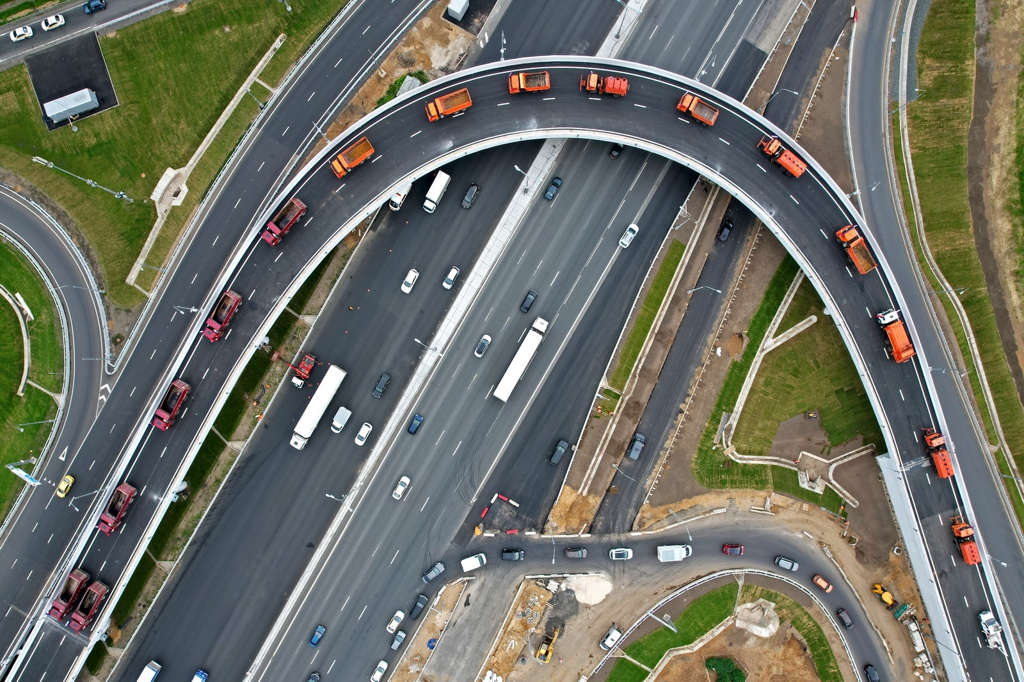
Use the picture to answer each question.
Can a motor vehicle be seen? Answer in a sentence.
Yes, a motor vehicle is visible in the scene.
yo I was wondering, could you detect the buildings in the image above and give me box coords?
[43,88,99,120]
[447,0,469,20]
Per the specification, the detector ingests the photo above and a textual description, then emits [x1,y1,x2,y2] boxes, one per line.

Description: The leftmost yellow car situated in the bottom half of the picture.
[56,472,77,498]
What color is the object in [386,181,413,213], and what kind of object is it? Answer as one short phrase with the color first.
white truck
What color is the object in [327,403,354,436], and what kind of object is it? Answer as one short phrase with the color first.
white vehicle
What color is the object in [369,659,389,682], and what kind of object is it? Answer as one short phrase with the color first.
white car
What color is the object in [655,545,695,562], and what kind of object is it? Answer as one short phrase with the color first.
white vehicle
